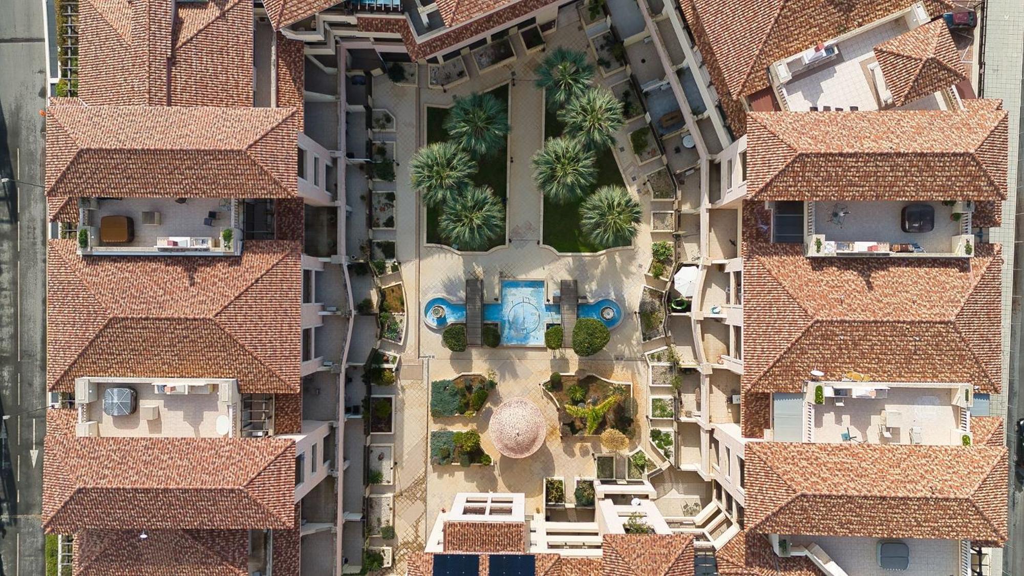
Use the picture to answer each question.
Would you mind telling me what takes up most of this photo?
buildings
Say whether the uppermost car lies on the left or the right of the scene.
right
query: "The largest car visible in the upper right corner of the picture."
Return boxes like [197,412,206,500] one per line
[937,7,975,33]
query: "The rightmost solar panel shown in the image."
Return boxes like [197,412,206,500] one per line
[489,554,535,576]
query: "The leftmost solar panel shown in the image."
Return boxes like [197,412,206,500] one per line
[433,554,479,576]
